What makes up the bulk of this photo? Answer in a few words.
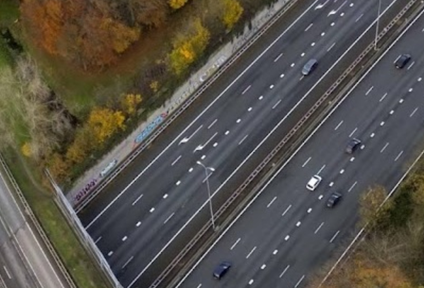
paved ground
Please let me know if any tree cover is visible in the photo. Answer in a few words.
Yes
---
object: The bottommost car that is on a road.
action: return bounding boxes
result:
[211,260,233,283]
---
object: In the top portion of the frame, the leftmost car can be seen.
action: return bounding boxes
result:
[301,57,319,75]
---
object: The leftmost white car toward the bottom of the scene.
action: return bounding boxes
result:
[305,175,323,192]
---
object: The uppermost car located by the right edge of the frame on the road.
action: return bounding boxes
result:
[394,55,410,70]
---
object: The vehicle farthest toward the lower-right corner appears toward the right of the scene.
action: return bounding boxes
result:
[324,191,343,210]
